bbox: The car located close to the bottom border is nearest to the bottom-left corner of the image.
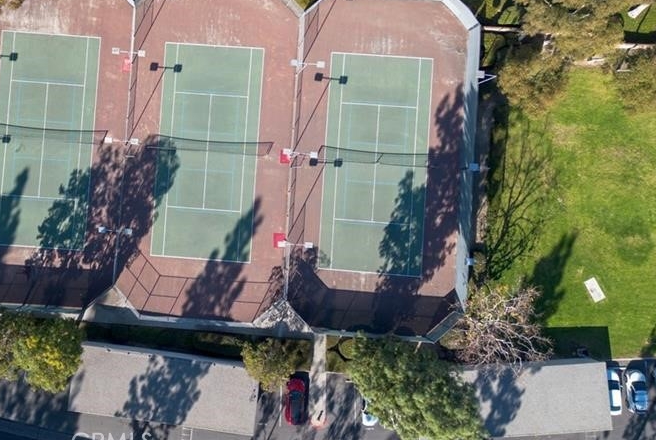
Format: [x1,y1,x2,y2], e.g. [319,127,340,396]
[287,380,308,425]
